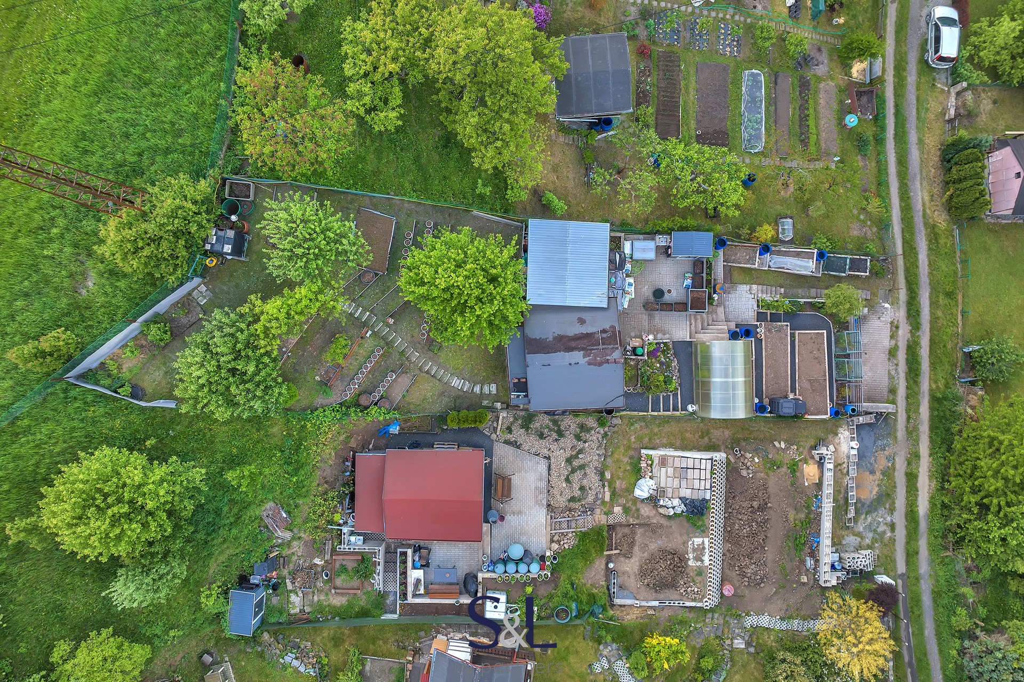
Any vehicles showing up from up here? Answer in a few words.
Yes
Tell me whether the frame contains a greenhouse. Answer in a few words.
Yes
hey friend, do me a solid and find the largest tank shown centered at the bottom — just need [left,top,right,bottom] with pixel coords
[486,585,507,619]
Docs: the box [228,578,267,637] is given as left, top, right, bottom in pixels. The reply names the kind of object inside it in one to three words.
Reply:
shed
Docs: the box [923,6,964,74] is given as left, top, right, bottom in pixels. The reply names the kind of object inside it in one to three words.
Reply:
car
